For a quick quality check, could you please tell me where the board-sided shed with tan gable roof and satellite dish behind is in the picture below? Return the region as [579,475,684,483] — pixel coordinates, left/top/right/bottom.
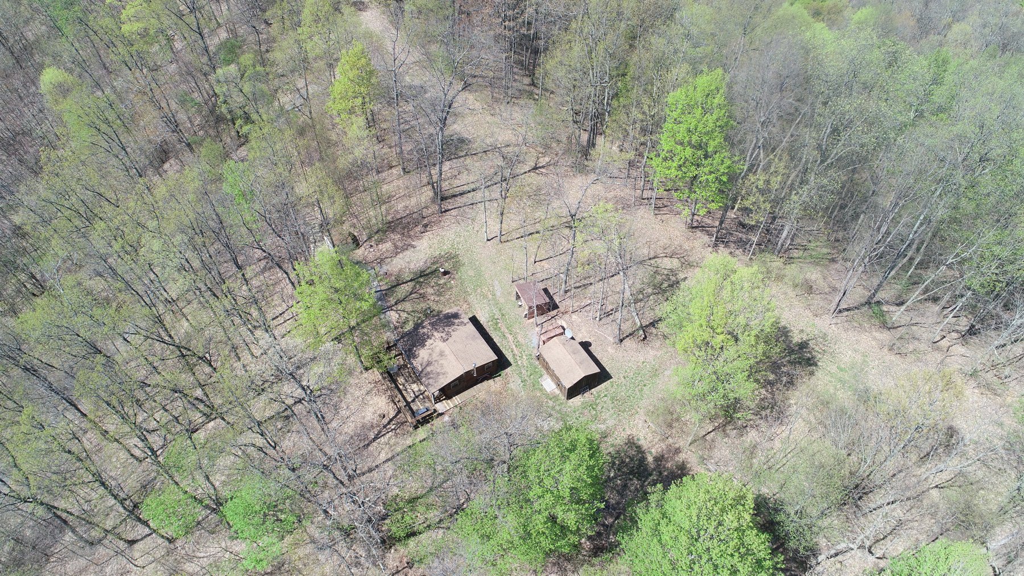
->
[539,336,600,397]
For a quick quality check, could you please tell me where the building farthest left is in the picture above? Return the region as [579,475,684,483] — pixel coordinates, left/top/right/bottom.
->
[394,308,498,407]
